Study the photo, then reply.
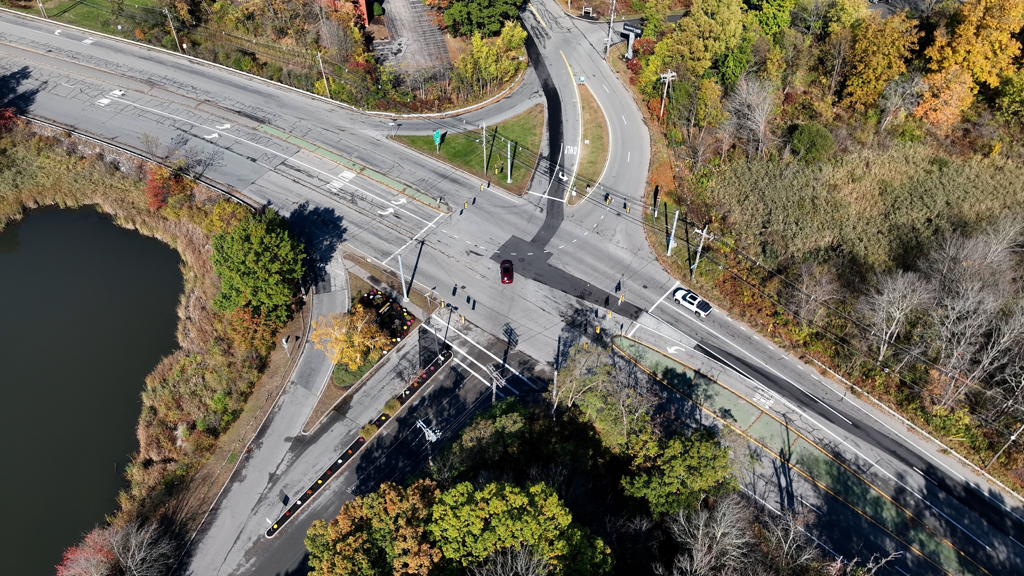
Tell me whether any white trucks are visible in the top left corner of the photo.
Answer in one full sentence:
No, there's no white truck to be seen in the top left corner of the photo.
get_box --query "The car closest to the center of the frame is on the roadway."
[500,262,514,284]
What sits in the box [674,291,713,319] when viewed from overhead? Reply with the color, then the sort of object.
white truck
